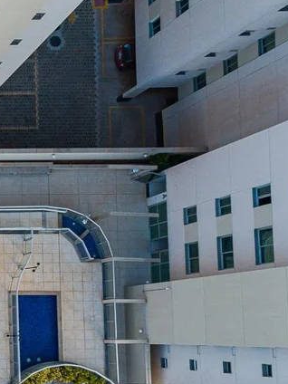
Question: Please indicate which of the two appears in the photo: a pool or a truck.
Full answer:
This aerial view contains a pool.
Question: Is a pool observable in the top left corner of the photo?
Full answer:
No, no pool can be made out in the top left corner of the photo.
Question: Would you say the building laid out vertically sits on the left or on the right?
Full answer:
It is on the right.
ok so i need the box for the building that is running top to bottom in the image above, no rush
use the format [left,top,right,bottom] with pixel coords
[126,0,288,384]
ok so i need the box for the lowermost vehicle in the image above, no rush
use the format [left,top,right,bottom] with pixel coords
[114,45,135,74]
